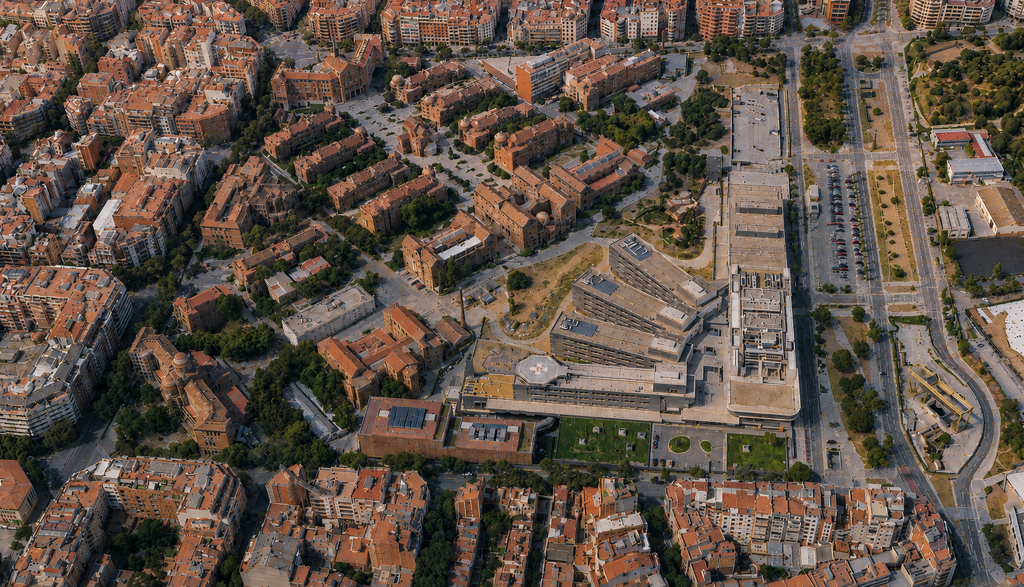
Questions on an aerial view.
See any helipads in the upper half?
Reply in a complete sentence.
No, I can find no helipad in the upper half.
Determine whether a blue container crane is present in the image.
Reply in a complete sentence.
No, no blue container crane is visible in the scene.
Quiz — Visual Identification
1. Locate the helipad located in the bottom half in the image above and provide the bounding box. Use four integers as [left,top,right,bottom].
[513,351,564,387]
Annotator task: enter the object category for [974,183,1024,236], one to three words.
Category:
building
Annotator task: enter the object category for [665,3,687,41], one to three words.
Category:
building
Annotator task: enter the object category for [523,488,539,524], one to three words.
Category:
house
